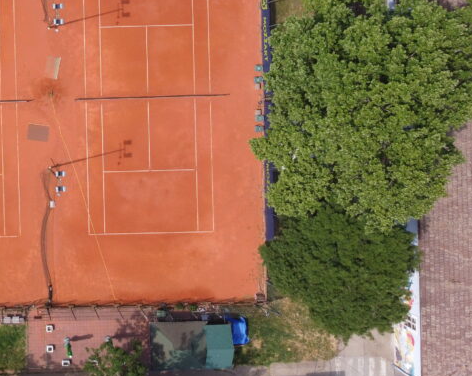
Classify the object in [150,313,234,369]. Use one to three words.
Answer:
shed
